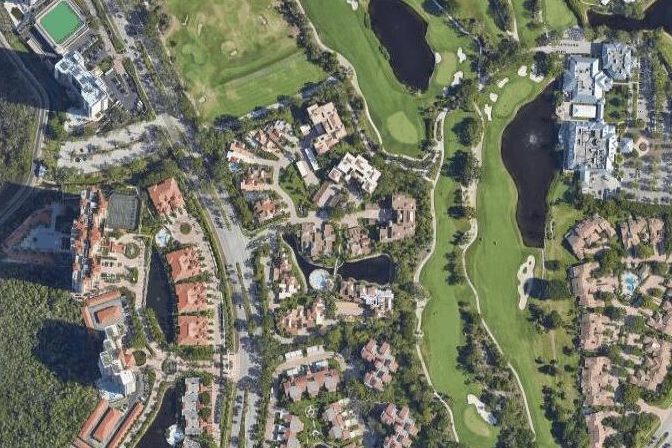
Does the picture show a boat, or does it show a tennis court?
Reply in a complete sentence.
Of the two, only a tennis court appears.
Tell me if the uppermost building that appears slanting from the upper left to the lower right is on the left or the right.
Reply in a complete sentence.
The uppermost building that appears slanting from the upper left to the lower right appears in the left half of the scene.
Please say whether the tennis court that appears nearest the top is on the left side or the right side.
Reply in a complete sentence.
The tennis court that appears nearest the top sits on the left side.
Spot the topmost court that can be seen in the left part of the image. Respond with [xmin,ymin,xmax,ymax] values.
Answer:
[108,192,138,229]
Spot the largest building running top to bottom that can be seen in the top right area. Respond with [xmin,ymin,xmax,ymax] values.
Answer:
[560,42,637,195]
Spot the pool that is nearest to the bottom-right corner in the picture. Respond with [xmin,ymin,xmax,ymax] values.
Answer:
[622,272,638,294]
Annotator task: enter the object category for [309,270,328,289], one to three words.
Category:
swimming pool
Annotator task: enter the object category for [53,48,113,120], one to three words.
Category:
building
